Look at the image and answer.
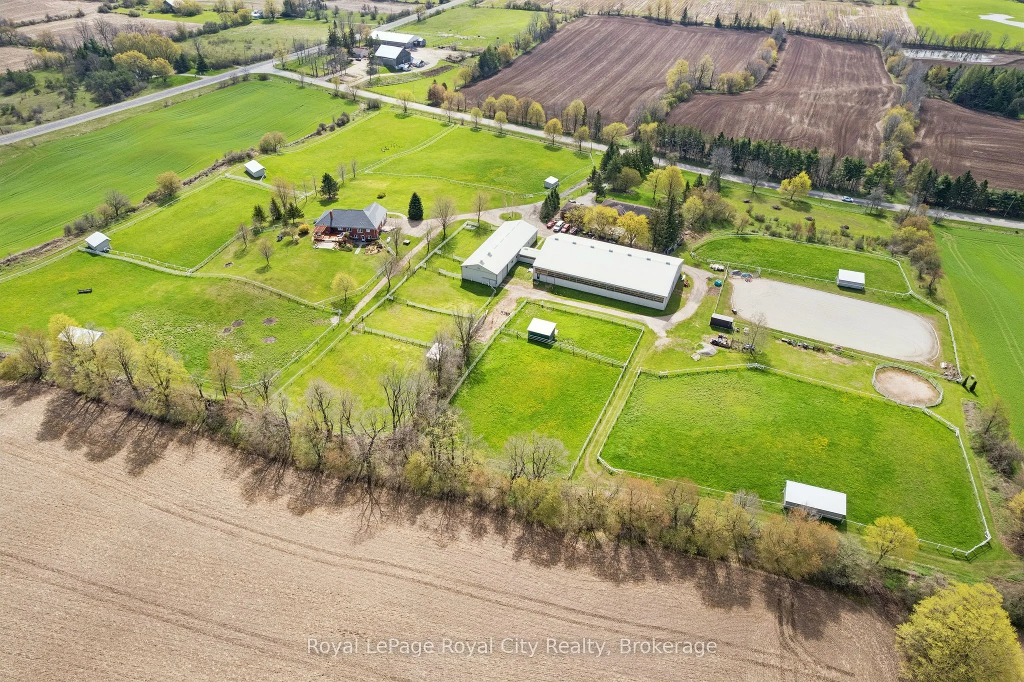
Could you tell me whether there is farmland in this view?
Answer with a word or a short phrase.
Yes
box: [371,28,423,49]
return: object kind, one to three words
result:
barn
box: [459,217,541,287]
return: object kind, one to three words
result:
barn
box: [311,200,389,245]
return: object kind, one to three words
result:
house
